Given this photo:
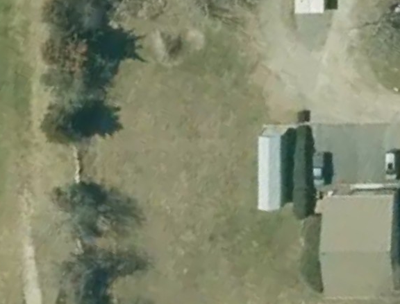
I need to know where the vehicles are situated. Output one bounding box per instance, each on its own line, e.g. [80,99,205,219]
[312,153,325,181]
[385,148,398,176]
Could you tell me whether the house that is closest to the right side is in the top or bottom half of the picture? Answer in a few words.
bottom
